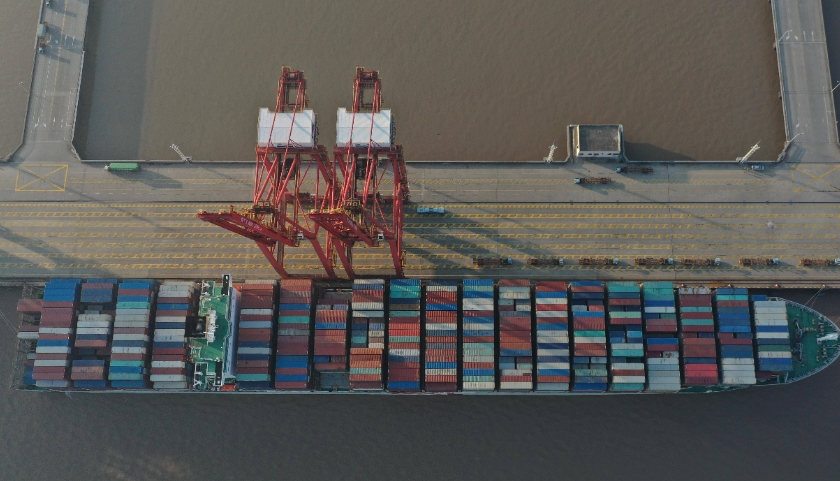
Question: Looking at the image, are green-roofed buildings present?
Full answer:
No, there isn't any green-roofed building down there.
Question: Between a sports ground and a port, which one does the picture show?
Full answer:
This image shows a port.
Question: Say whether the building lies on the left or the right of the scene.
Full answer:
You can find the building on the right side of the picture.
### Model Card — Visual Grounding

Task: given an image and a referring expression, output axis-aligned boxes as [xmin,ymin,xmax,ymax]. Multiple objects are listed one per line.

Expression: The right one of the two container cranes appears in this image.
[305,69,410,278]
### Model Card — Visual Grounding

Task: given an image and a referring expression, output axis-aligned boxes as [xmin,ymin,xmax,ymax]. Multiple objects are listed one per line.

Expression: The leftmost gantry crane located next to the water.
[196,68,340,278]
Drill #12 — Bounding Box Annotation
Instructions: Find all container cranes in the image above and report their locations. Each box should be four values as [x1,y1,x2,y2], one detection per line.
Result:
[196,68,340,278]
[305,69,410,278]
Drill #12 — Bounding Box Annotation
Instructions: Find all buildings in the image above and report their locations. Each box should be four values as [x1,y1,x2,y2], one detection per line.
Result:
[561,122,631,161]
